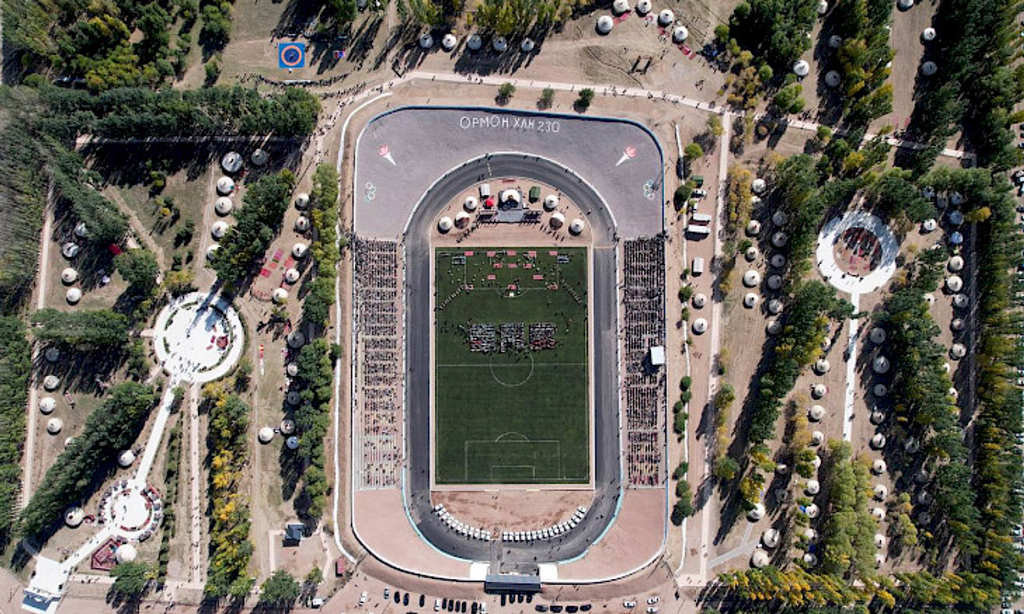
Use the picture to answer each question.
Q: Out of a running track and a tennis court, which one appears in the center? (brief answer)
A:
running track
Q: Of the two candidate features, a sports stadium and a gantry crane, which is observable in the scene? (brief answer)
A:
sports stadium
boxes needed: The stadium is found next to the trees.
[352,106,668,582]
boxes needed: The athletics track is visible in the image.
[405,154,621,565]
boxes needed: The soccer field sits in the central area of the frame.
[430,245,594,490]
